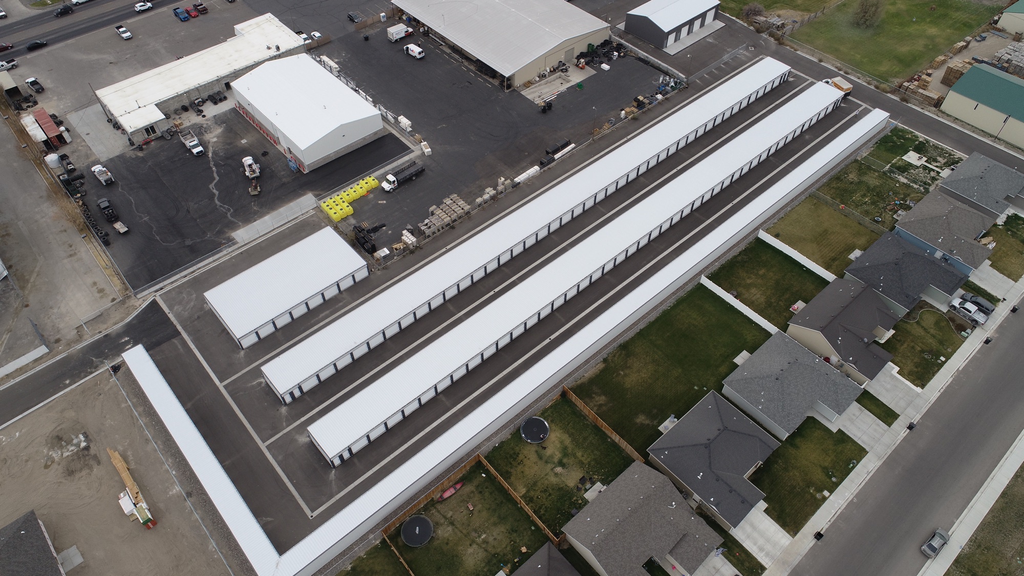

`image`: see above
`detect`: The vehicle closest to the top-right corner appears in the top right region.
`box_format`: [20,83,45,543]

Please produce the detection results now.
[819,73,855,98]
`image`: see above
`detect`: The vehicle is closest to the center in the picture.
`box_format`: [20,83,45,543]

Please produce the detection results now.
[381,162,430,194]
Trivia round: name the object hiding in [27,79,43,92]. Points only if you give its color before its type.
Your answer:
black vehicle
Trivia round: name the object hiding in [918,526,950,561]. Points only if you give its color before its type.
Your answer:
gray car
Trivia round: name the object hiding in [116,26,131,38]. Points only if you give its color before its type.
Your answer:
white vehicle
